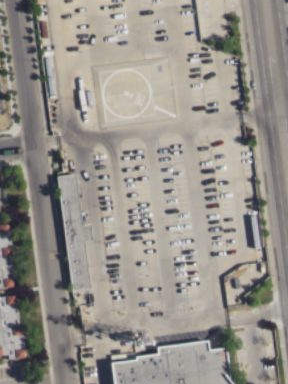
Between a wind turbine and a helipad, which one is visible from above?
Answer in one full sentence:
This aerial view contains a helipad.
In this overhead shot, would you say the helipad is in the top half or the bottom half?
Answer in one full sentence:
The helipad is in the top half of the image.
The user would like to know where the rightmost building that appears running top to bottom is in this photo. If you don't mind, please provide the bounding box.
[56,174,92,291]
